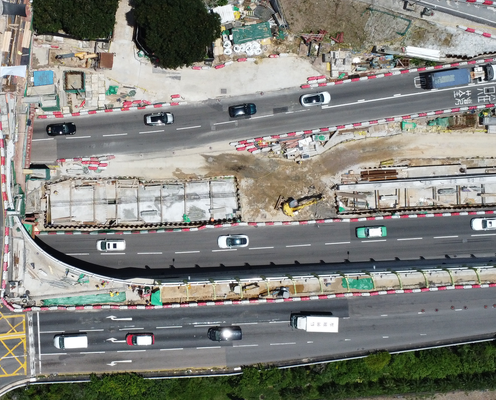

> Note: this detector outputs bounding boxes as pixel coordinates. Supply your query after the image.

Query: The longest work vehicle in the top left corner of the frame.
[53,52,114,70]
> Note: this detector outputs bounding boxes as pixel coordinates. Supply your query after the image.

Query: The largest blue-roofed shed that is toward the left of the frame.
[34,71,55,85]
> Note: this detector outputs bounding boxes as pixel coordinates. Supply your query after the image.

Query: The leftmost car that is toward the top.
[46,121,75,136]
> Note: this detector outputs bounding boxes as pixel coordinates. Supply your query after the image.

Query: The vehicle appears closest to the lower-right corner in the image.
[471,217,496,231]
